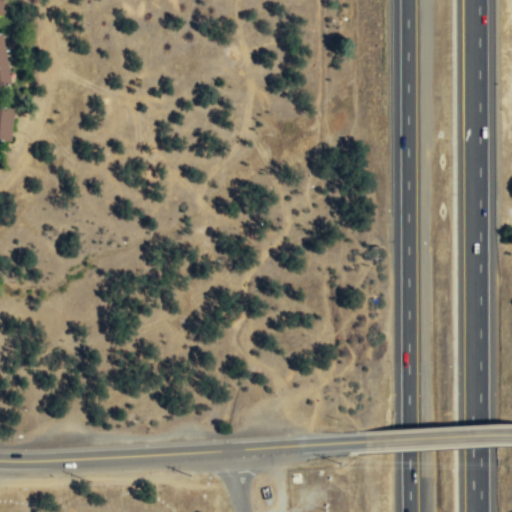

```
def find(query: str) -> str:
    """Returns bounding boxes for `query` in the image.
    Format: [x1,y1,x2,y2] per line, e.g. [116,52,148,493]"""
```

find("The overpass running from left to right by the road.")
[349,424,512,454]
